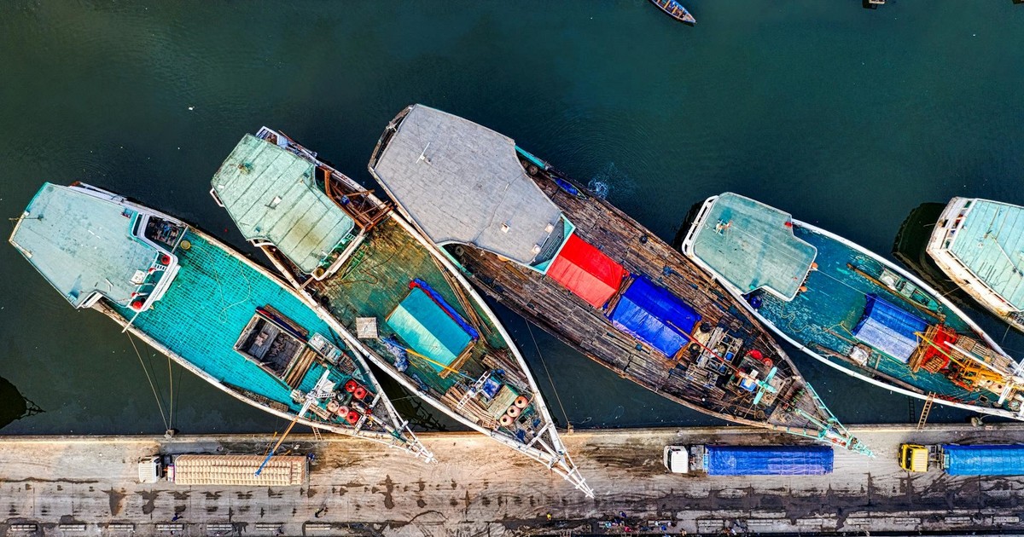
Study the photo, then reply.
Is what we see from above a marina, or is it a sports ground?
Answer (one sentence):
This image shows a marina.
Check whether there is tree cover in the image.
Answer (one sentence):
No, the scene doesn't show any tree cover.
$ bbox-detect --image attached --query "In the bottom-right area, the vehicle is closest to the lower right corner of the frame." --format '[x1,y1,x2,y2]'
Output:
[894,437,1024,475]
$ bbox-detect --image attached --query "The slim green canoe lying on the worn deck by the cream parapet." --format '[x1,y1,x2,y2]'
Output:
[340,244,368,279]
